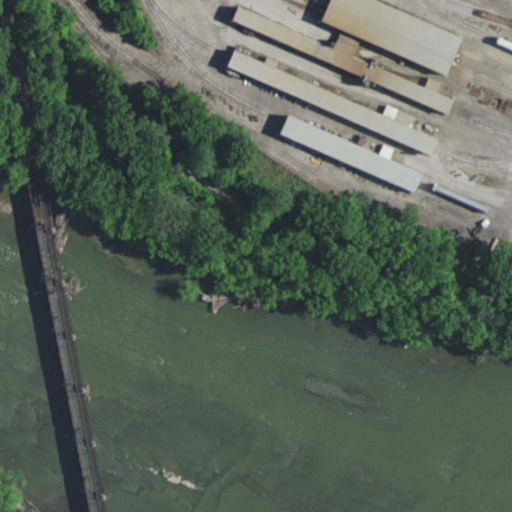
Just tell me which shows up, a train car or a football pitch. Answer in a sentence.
The one in the frame is a train car.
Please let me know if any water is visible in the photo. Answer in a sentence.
Yes, water can be seen from above here.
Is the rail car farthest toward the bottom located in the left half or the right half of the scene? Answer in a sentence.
It is on the right.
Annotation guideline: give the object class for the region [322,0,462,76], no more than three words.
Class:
building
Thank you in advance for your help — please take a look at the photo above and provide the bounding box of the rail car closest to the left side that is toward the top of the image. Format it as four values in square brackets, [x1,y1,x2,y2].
[432,184,488,214]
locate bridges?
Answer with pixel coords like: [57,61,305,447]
[30,181,107,512]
